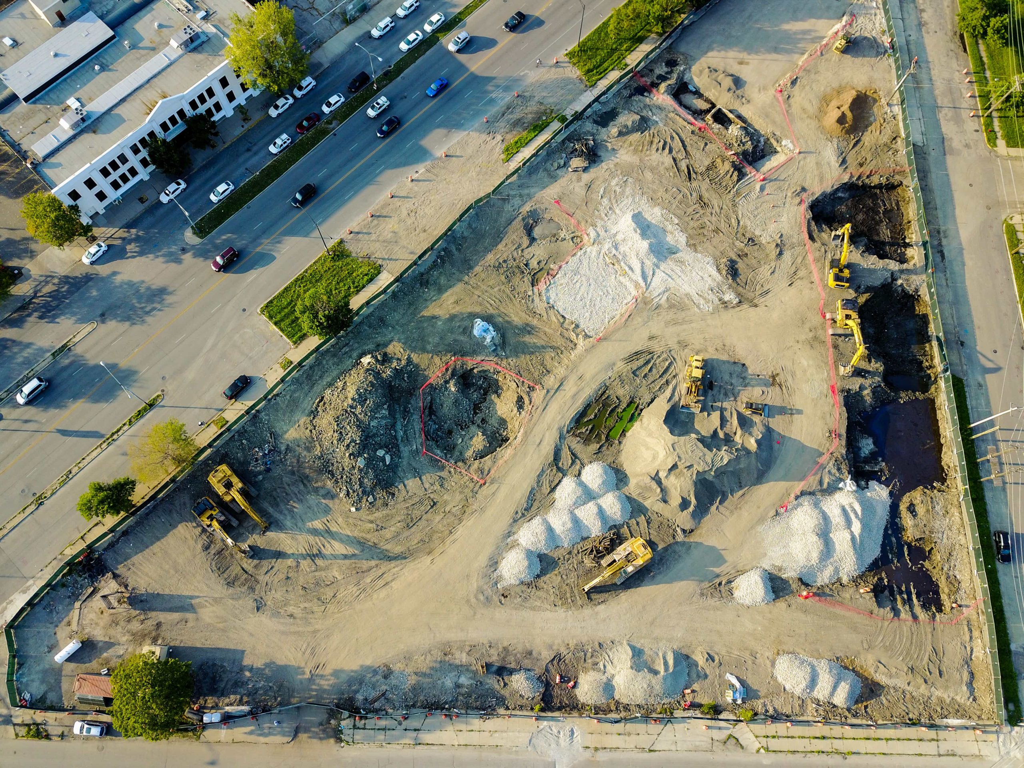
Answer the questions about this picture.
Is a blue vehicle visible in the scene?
Yes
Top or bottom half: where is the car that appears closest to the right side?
bottom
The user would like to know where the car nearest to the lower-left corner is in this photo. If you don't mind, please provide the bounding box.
[74,723,108,740]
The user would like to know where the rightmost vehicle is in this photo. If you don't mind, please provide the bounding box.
[992,530,1014,563]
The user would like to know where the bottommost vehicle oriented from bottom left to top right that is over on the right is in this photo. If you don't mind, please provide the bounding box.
[585,533,658,593]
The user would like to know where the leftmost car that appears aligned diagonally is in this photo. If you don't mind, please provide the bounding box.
[16,376,49,405]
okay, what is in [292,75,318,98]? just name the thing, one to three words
car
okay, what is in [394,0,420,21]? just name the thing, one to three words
car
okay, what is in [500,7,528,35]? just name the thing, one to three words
truck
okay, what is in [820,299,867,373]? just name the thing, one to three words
work vehicle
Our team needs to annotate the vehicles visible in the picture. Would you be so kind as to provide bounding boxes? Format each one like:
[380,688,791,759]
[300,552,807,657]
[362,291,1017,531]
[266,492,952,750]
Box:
[16,376,49,405]
[820,299,867,373]
[190,496,250,559]
[446,30,471,54]
[160,180,188,204]
[268,94,295,118]
[82,241,110,266]
[290,182,318,208]
[585,533,658,593]
[394,0,420,21]
[292,75,318,98]
[992,530,1014,563]
[398,30,424,53]
[345,69,372,94]
[369,15,395,40]
[365,95,391,120]
[375,115,401,139]
[266,131,294,157]
[321,91,346,115]
[209,180,237,204]
[422,11,448,34]
[222,374,252,401]
[295,111,322,135]
[681,357,706,412]
[203,461,266,532]
[211,246,240,272]
[424,76,450,99]
[74,723,108,740]
[500,7,528,35]
[825,225,853,294]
